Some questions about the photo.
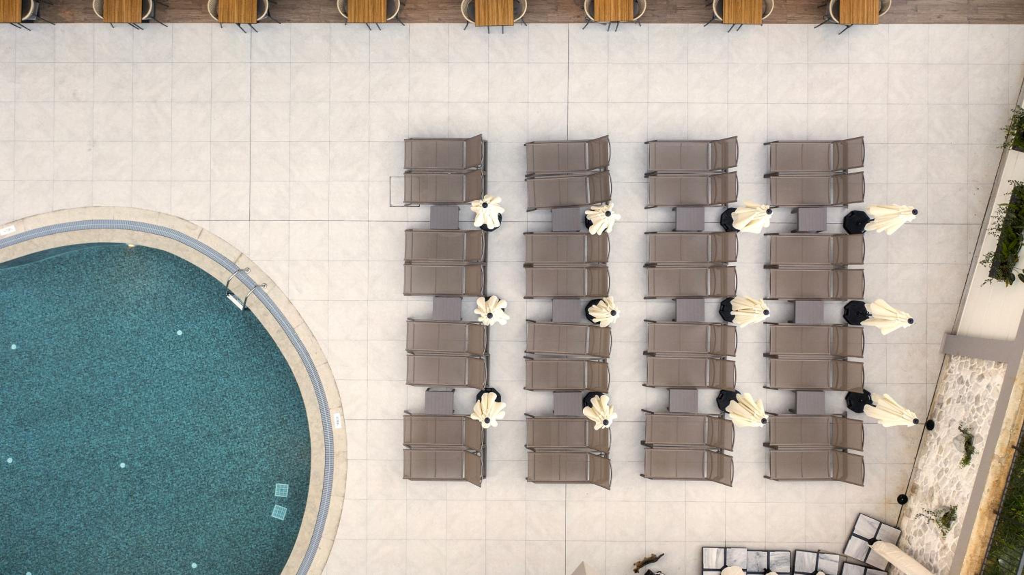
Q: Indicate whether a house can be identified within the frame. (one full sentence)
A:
No, the picture doesn't show any house.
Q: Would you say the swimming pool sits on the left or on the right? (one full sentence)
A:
You can find the swimming pool on the left side of the picture.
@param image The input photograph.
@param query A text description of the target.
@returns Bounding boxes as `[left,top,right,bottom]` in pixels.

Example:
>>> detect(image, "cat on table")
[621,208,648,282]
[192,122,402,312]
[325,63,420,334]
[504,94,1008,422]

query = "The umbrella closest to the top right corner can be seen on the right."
[842,200,917,234]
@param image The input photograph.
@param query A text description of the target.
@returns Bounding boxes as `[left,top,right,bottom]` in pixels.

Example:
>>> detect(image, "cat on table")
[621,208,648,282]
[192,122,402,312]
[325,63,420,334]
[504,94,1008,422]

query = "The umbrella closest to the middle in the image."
[474,294,510,327]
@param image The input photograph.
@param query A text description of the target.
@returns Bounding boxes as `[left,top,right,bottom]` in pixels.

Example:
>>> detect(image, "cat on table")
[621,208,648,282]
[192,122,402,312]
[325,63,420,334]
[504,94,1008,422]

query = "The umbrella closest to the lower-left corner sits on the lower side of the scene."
[470,388,504,426]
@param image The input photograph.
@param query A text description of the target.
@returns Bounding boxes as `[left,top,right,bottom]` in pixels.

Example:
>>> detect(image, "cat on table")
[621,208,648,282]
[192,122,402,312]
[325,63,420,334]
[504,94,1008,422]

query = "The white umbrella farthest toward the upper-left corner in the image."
[470,197,506,231]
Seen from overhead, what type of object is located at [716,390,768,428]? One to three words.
umbrella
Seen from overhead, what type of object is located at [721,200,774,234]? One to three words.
umbrella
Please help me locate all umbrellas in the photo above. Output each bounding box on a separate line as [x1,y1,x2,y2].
[846,391,919,426]
[842,299,913,333]
[719,293,771,329]
[585,292,620,331]
[716,390,768,428]
[580,392,618,429]
[583,202,618,235]
[721,200,774,234]
[842,200,917,234]
[470,388,504,426]
[474,294,510,327]
[470,197,506,231]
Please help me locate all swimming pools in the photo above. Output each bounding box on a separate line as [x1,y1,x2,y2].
[0,243,311,575]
